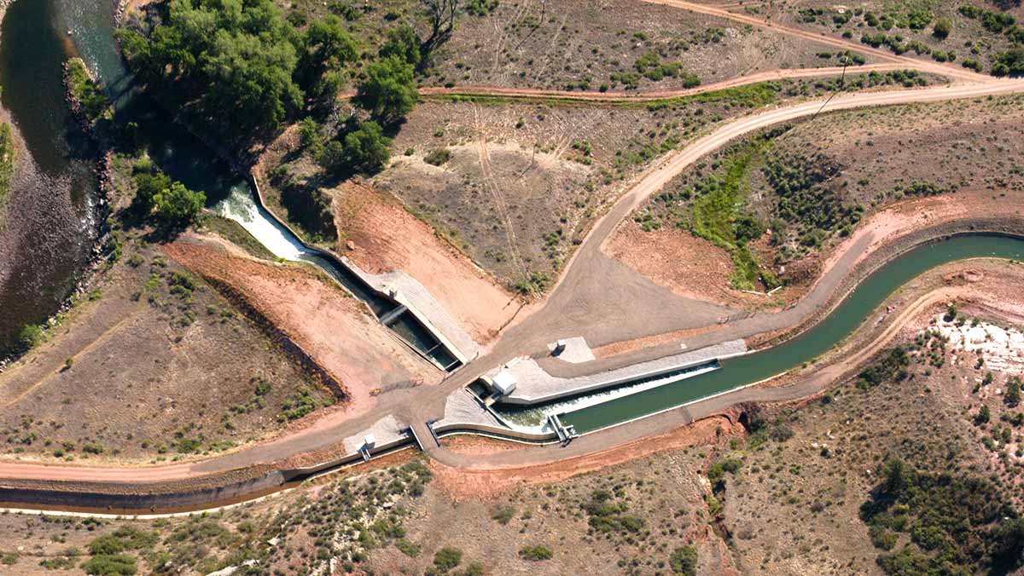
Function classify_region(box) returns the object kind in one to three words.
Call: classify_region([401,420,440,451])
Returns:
bridge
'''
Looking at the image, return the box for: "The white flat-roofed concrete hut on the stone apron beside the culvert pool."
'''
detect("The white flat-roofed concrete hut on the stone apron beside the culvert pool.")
[491,368,518,394]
